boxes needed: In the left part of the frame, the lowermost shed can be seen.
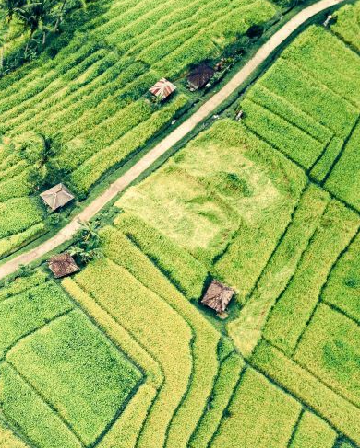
[49,252,80,282]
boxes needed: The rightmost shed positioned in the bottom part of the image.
[201,279,236,315]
